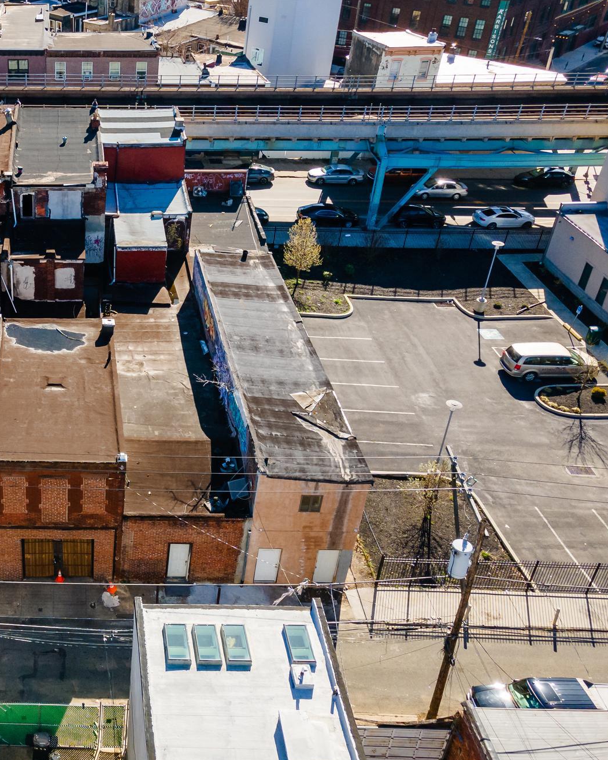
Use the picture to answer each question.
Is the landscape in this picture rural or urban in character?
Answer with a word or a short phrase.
urban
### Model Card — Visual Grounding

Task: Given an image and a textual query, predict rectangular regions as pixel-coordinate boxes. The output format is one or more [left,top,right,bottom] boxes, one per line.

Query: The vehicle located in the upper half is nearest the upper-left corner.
[216,159,275,184]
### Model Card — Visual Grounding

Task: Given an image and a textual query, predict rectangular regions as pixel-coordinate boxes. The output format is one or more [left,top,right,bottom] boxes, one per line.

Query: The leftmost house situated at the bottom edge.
[126,596,371,760]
